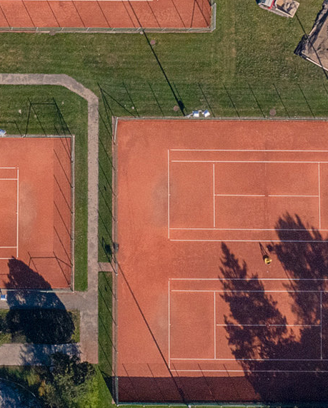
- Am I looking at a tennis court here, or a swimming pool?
tennis court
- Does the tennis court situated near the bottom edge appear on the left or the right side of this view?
right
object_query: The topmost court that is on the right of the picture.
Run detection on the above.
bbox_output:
[116,119,328,260]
